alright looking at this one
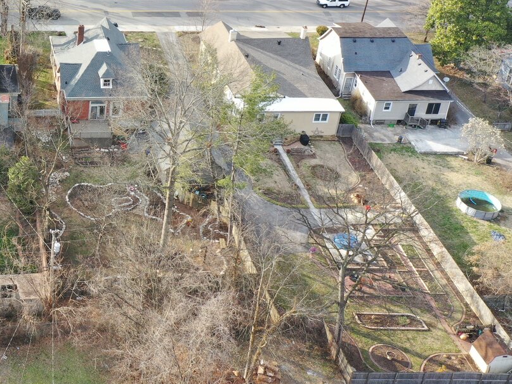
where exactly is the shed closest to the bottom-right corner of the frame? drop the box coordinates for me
[465,321,512,374]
